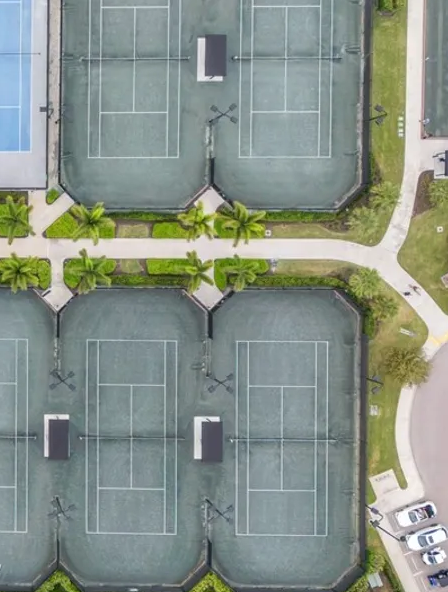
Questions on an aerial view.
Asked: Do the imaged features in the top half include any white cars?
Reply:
No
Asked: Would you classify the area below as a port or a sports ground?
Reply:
sports ground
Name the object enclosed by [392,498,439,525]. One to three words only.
car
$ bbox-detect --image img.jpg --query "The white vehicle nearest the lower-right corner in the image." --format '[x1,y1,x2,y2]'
[420,546,448,566]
